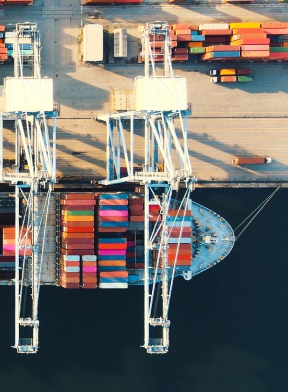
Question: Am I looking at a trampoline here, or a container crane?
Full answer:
It is a container crane that can be seen here.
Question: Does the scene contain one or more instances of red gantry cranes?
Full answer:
No, no red gantry crane is visible in the view.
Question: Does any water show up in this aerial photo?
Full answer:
Yes, water can be seen from above here.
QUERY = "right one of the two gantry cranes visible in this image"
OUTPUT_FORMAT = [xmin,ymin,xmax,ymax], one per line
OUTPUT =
[90,21,200,356]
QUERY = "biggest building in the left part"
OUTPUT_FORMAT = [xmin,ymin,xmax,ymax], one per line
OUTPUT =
[81,25,103,63]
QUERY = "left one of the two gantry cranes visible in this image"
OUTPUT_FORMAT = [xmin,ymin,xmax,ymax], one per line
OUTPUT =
[0,21,59,356]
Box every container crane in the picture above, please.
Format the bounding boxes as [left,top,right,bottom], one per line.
[0,21,59,356]
[90,21,200,356]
